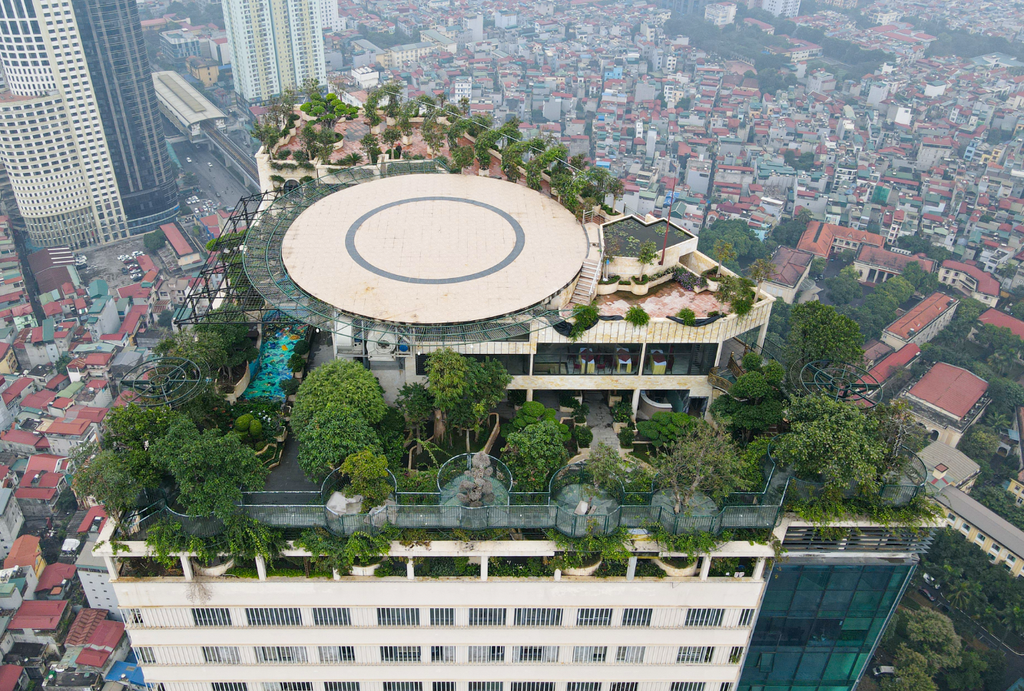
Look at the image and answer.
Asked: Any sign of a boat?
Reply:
No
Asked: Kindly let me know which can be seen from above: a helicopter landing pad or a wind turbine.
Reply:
helicopter landing pad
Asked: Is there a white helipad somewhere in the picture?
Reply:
Yes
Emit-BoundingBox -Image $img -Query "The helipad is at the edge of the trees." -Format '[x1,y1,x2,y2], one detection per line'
[281,174,587,334]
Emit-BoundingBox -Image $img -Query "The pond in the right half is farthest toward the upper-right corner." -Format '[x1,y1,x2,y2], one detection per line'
[600,214,700,278]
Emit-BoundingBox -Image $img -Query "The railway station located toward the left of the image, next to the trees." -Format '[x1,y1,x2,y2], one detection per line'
[154,65,255,148]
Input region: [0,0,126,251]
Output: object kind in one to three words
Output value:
building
